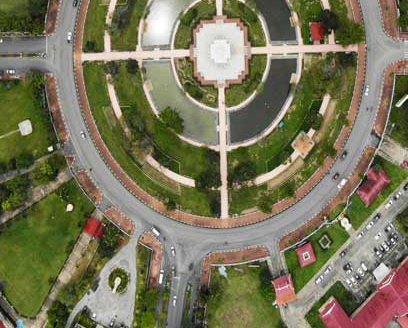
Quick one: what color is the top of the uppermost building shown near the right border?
red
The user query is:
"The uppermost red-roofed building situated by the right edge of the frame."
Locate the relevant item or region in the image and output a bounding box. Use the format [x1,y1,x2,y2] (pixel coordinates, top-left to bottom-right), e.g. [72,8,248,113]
[356,170,391,203]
